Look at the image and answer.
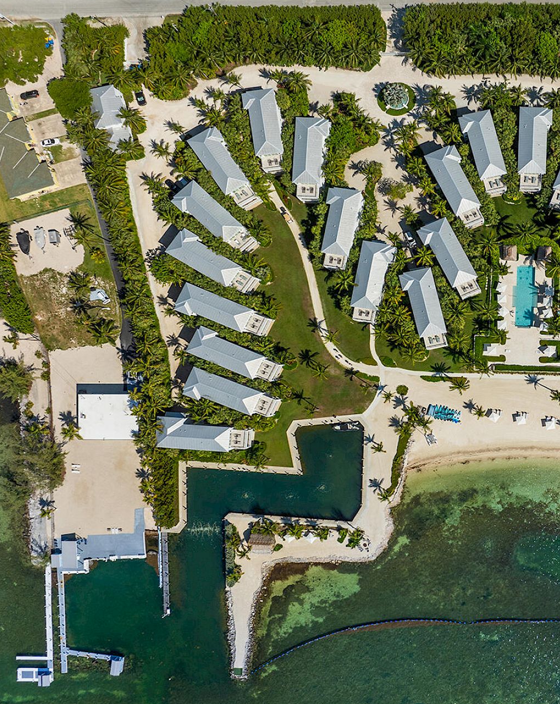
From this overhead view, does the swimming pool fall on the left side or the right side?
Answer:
right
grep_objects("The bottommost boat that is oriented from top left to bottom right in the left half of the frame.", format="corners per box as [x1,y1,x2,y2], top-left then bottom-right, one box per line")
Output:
[89,287,108,305]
